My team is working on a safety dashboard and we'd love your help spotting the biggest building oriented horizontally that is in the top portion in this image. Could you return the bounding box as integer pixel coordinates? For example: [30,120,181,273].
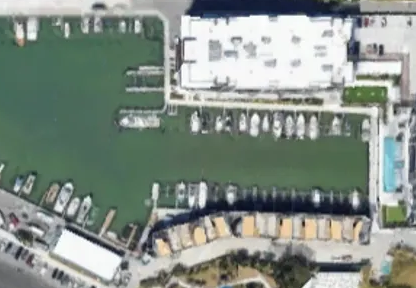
[179,16,353,96]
